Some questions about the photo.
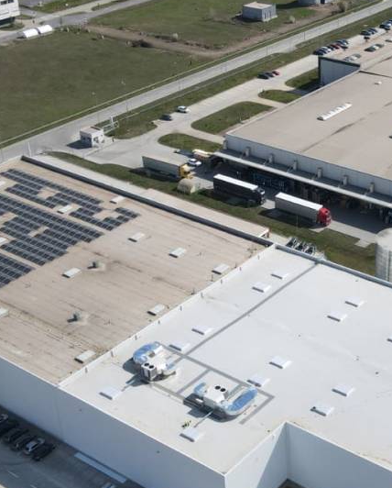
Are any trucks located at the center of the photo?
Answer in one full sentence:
Yes, at the center of the photo there is a truck.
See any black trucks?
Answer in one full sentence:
Yes, this view includes a black truck.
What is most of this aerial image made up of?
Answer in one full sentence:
The scene is dominated by buildings.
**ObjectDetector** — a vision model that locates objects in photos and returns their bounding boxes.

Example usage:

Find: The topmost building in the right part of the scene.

[243,2,275,20]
